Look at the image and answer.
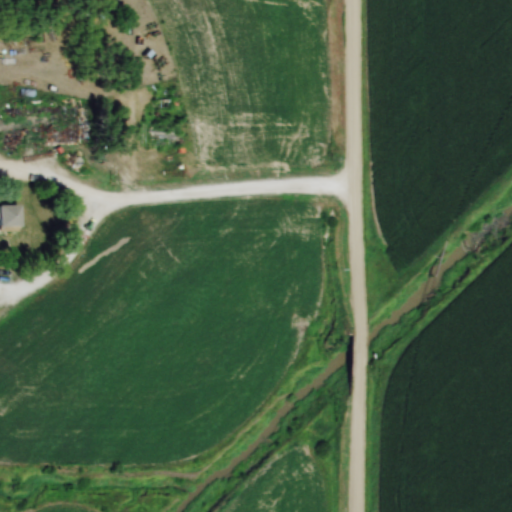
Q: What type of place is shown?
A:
farmland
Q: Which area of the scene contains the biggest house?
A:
left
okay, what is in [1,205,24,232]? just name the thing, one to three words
house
